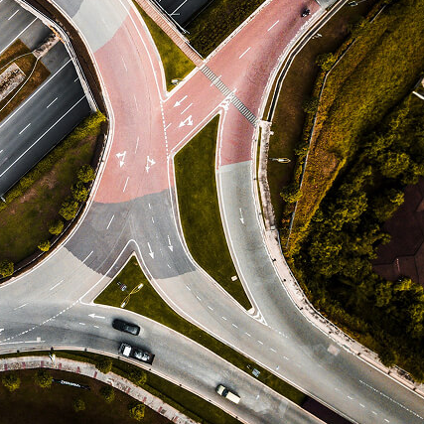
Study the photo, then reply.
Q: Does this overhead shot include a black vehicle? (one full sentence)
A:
Yes, there is a black vehicle in the image.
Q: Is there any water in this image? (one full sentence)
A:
No, there is no water in the image.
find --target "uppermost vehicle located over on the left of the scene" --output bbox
[111,317,140,334]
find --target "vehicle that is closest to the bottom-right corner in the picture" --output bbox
[214,384,242,404]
